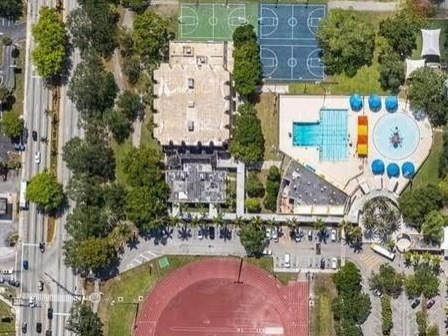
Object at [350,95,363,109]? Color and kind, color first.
blue umbrella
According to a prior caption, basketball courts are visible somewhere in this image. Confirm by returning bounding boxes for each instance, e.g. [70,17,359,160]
[257,2,327,42]
[176,2,257,41]
[258,42,327,82]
